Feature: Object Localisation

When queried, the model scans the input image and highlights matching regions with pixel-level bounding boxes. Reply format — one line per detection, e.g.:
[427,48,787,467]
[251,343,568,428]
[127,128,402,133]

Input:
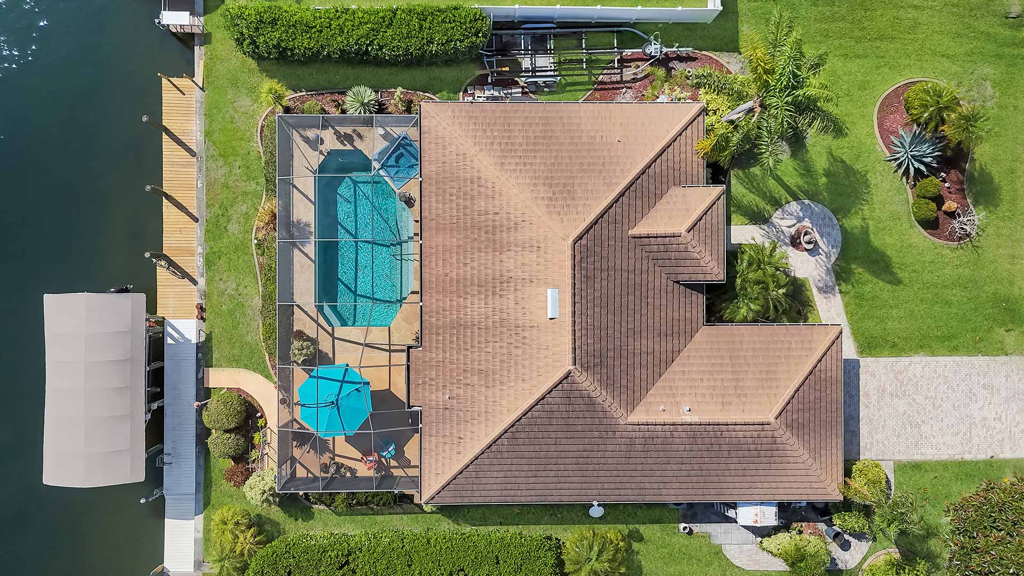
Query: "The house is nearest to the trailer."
[405,99,847,504]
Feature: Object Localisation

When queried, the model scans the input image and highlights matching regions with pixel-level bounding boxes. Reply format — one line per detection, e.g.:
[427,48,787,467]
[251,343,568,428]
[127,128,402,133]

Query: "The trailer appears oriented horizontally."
[485,14,694,84]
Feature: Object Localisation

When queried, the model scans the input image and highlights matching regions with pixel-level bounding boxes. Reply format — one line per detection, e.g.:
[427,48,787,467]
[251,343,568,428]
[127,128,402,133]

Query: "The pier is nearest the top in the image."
[169,0,194,33]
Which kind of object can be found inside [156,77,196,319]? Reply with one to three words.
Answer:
pier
